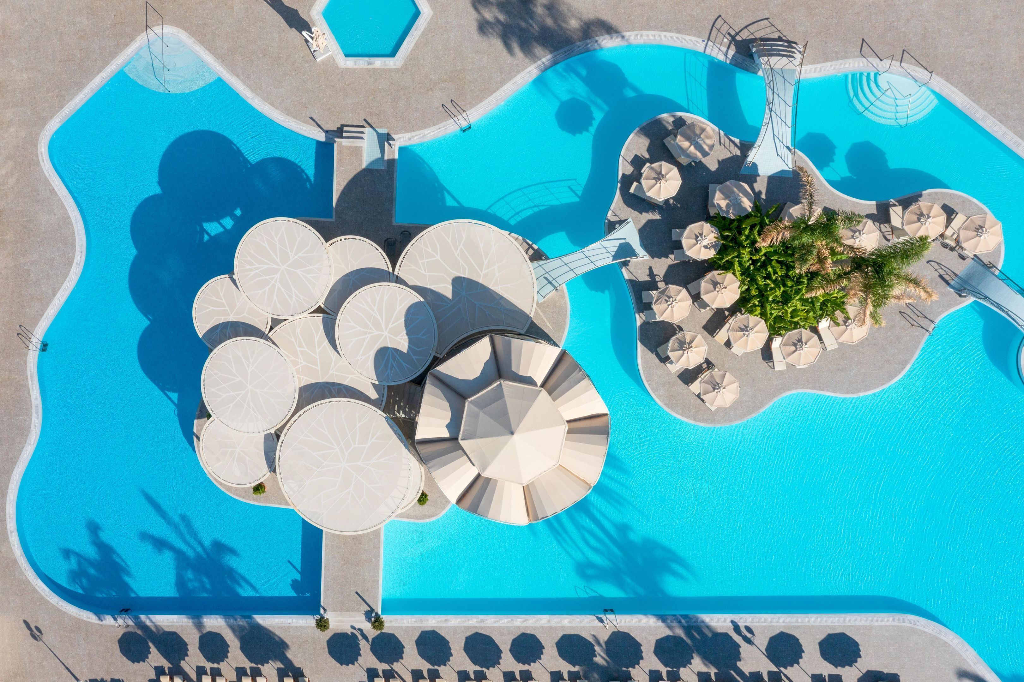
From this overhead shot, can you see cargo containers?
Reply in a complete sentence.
No, the picture doesn't show any cargo container.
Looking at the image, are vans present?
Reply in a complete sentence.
No, the photo shows no van.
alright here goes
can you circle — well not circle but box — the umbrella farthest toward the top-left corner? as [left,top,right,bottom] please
[305,21,332,60]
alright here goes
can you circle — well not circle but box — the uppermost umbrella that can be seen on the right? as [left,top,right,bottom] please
[673,121,718,163]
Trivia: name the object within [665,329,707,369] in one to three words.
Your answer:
umbrella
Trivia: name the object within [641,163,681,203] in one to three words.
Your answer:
umbrella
